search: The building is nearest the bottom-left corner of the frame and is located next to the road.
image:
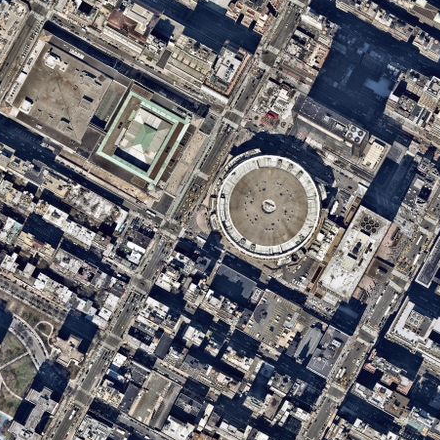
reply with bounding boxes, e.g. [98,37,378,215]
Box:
[6,383,64,440]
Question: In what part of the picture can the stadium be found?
center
